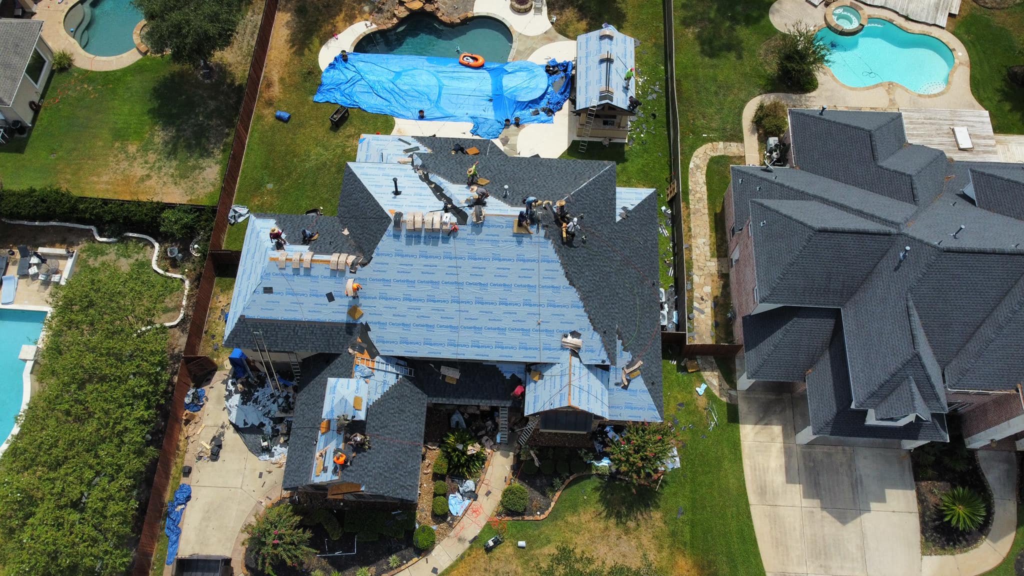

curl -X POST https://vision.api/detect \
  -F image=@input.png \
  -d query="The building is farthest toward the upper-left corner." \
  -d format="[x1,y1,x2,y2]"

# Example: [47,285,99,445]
[0,0,64,127]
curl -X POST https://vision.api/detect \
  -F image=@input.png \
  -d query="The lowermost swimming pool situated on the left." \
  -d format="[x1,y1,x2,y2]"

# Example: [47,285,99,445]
[0,303,52,459]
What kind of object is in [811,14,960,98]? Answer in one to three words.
swimming pool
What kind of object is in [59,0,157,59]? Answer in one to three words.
swimming pool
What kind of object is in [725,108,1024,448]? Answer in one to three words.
house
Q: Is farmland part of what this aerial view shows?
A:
No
